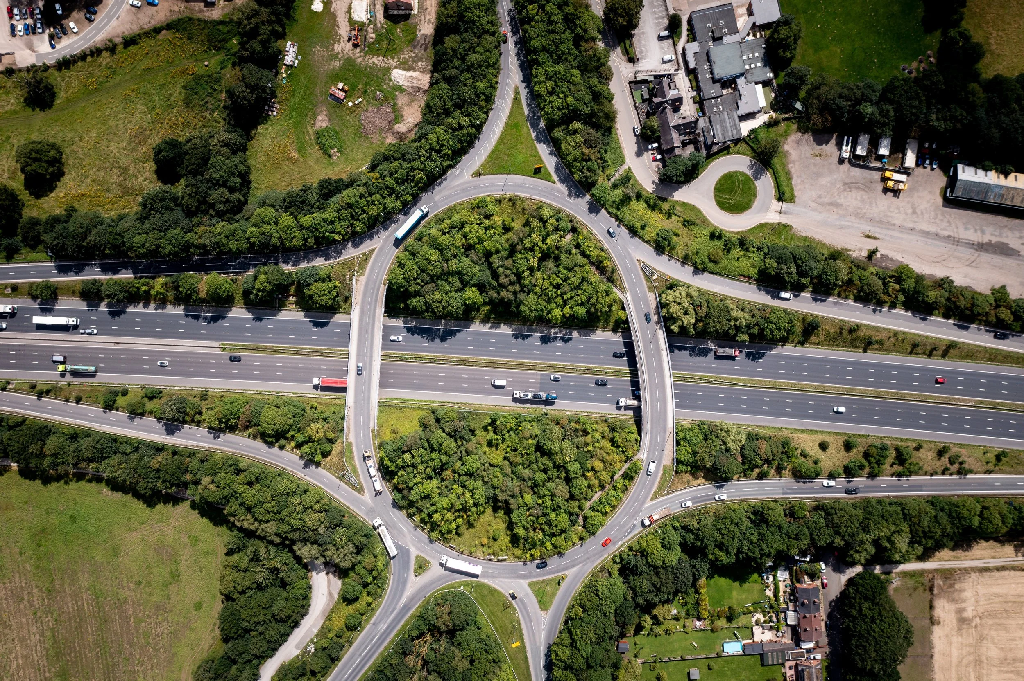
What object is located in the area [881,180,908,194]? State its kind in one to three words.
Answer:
vehicle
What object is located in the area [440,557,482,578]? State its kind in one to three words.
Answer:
truck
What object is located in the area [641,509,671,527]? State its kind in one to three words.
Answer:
vehicle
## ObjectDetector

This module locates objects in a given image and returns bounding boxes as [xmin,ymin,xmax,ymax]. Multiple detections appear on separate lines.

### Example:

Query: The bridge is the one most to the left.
[343,277,388,441]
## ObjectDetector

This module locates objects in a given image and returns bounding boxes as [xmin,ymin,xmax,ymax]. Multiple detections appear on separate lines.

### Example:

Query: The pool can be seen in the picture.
[722,641,742,653]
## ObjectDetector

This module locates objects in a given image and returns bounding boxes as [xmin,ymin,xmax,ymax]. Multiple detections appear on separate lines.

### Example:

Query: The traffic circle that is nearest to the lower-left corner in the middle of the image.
[352,174,668,583]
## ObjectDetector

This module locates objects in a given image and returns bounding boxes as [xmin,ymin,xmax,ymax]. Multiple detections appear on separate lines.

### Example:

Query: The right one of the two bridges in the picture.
[623,290,677,465]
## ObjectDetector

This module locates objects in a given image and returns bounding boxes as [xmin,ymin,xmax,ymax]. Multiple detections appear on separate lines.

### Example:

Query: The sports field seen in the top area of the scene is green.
[779,0,938,81]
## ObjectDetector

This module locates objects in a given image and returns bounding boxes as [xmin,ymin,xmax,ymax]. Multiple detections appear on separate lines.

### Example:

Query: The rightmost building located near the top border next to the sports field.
[683,0,781,146]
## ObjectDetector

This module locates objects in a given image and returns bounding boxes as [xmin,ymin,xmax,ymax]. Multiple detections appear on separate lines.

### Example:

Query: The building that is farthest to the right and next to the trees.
[946,163,1024,210]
